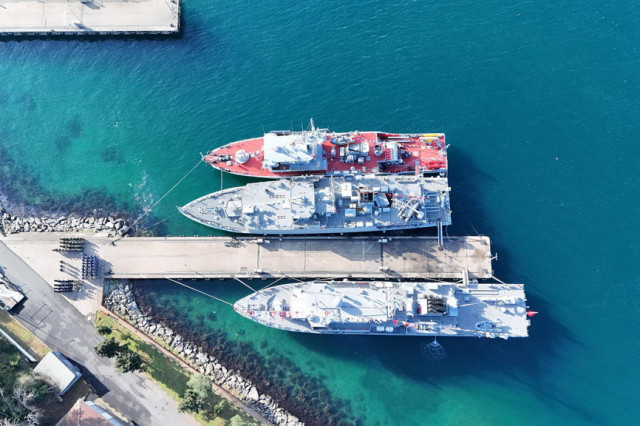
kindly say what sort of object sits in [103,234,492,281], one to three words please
pier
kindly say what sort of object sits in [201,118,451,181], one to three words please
ship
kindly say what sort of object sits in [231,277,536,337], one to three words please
ship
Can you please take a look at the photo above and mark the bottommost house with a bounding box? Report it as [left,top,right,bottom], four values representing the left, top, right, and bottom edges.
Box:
[61,397,128,426]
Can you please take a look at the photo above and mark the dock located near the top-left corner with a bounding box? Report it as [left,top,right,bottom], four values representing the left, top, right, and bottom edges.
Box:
[0,0,186,39]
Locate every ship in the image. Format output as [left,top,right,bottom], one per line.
[231,277,536,337]
[201,118,451,181]
[178,170,452,235]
